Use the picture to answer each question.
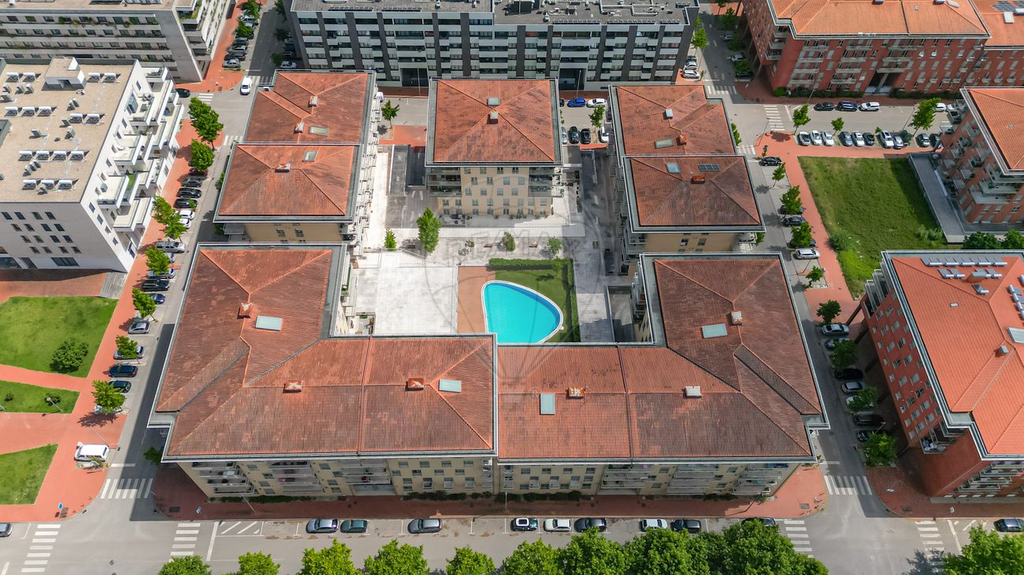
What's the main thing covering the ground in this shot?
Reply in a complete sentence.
What you mostly see from above here is buildings.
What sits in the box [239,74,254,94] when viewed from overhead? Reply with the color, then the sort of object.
white vehicle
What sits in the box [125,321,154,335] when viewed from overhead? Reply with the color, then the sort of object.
gray car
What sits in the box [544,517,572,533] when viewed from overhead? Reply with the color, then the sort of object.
white car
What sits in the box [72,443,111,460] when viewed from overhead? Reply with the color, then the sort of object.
white vehicle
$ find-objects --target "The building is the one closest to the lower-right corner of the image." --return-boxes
[851,251,1024,503]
